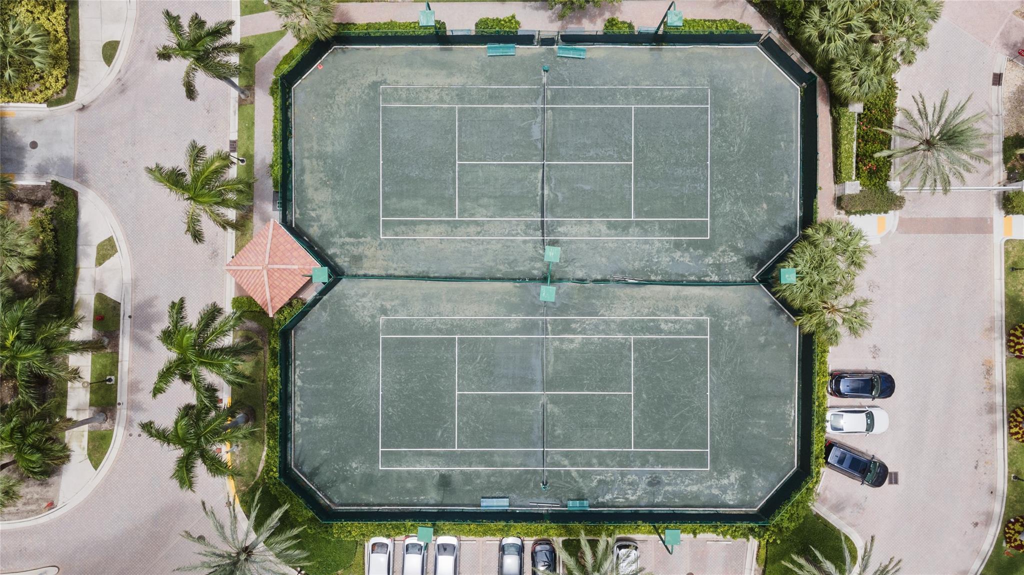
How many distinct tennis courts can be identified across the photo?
2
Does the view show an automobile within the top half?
No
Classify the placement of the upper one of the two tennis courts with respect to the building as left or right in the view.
to its right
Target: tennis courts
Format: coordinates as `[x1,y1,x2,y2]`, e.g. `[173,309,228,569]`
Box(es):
[293,46,800,283]
[292,278,798,509]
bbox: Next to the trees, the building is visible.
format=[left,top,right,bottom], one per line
[222,217,325,319]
